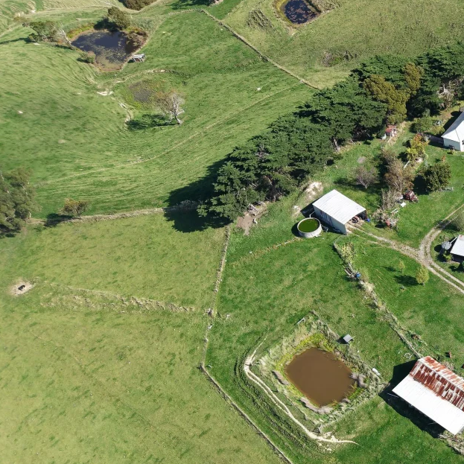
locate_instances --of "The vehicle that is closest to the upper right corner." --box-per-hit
[402,189,418,204]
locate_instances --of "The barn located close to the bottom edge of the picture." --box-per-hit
[395,355,464,442]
